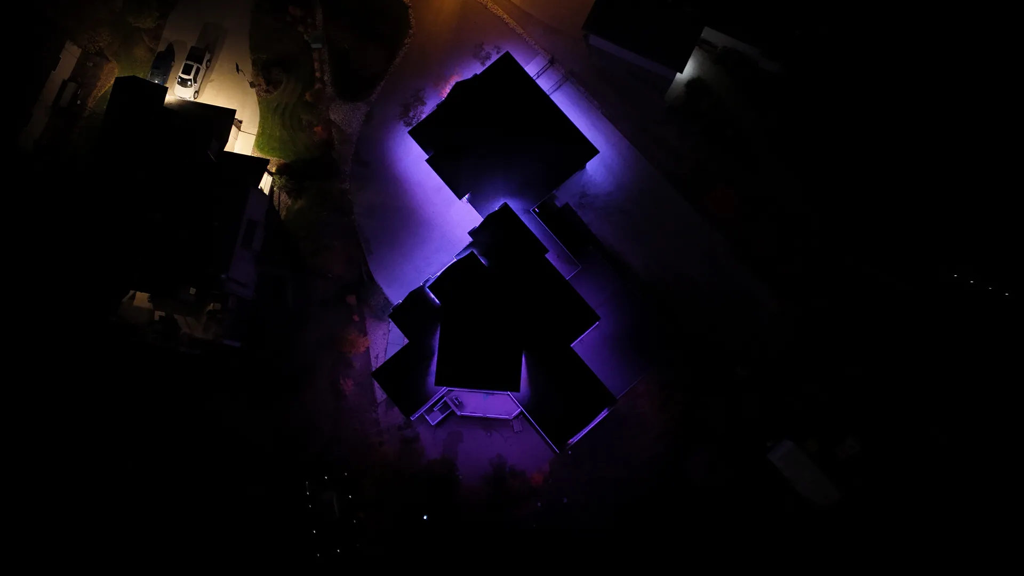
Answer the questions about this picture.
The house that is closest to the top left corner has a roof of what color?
black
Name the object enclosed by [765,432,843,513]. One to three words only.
trailer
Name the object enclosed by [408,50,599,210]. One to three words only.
building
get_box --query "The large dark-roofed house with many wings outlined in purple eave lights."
[372,190,617,454]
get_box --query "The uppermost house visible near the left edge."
[0,0,82,161]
